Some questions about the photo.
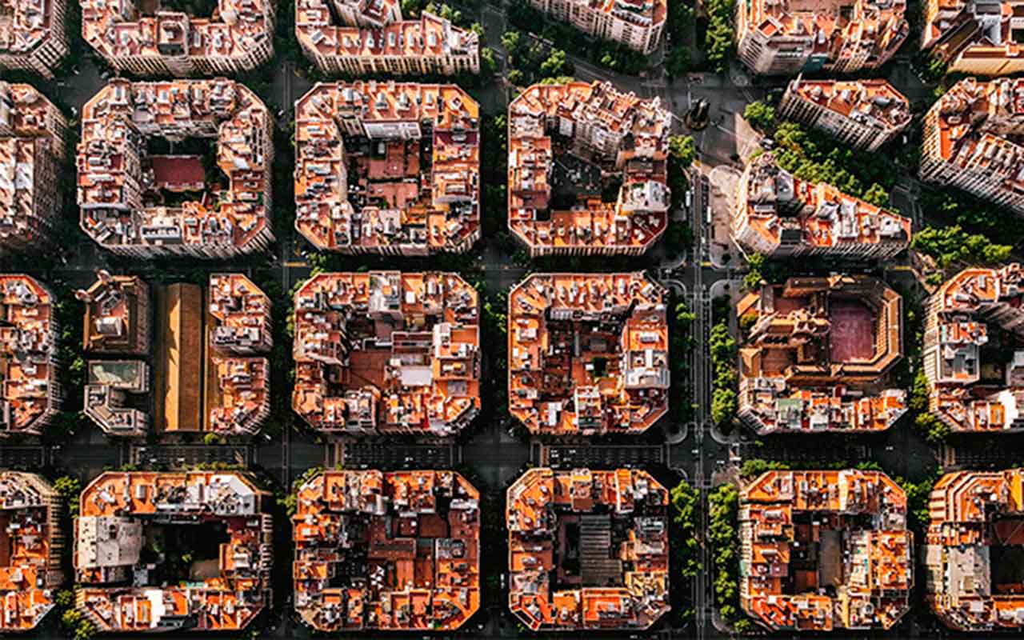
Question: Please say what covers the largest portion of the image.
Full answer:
The scene is dominated by buildings.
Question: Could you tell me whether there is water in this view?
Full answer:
No, there is no water in the image.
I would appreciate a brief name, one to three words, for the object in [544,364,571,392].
shed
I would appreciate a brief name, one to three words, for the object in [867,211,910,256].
building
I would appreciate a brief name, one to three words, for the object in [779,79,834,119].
building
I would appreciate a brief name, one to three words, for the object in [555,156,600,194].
shed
